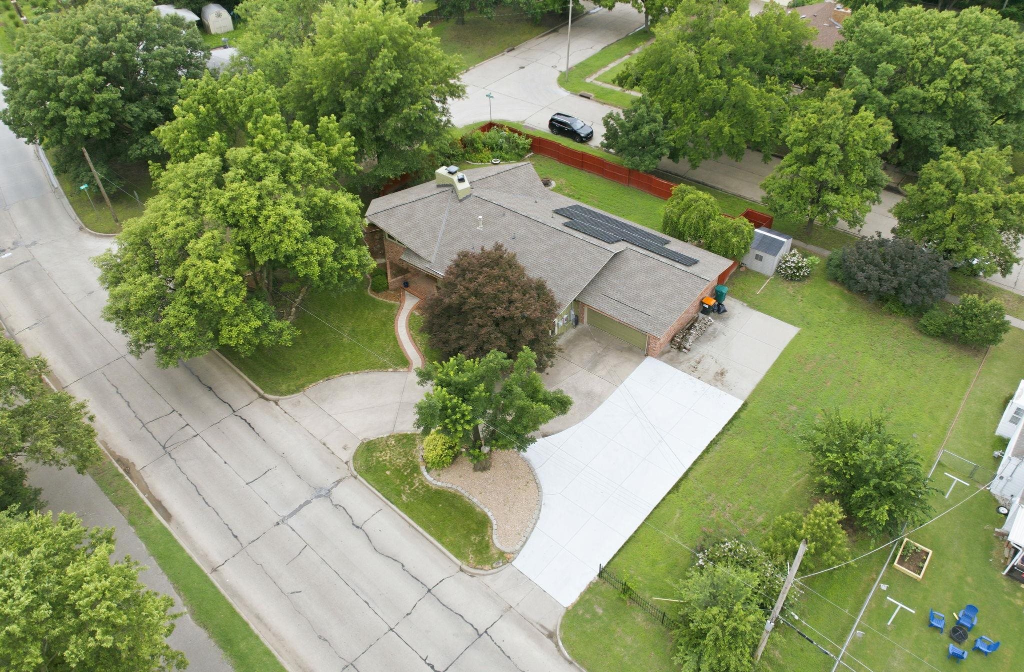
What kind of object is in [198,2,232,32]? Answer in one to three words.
shed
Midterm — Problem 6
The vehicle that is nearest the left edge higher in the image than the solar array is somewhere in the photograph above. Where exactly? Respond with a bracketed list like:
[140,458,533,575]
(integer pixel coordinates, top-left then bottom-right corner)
[550,114,593,141]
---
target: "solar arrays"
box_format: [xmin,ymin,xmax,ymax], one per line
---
[552,204,702,266]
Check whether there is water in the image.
No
